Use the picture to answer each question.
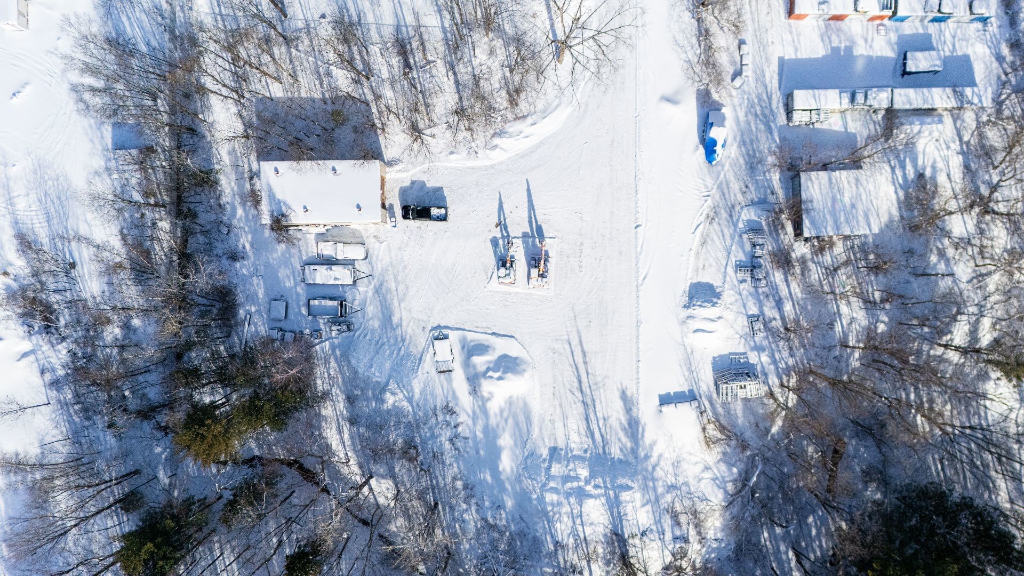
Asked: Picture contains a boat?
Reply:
Yes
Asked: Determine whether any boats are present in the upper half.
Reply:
Yes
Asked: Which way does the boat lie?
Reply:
up and down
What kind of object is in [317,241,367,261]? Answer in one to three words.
vehicle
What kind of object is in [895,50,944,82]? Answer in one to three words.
shed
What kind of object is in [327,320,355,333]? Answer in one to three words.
vehicle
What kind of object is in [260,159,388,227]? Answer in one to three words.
building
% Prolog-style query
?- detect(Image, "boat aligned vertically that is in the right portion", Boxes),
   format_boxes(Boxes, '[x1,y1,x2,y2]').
[702,110,729,165]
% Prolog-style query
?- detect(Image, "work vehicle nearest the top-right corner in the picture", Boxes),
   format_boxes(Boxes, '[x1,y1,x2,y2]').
[531,239,549,282]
